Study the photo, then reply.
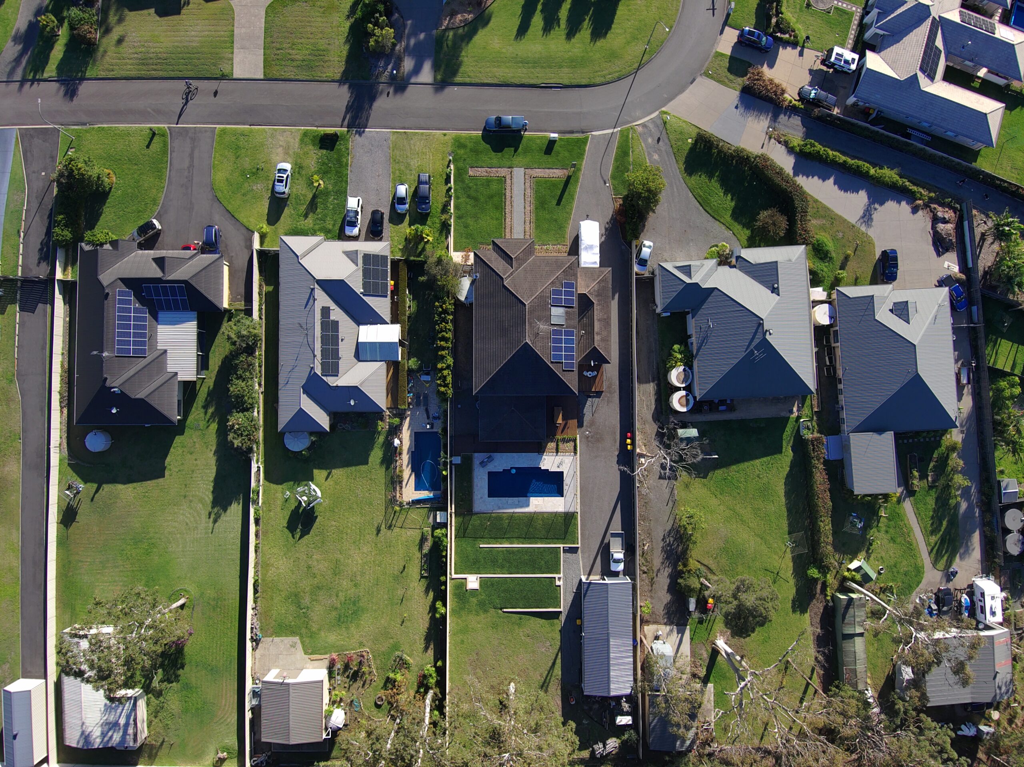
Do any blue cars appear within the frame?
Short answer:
Yes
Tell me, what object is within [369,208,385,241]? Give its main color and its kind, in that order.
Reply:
black car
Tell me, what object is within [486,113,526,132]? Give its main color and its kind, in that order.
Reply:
blue vehicle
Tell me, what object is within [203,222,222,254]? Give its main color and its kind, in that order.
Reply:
blue car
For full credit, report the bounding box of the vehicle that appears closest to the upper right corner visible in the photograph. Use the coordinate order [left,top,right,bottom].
[814,47,862,78]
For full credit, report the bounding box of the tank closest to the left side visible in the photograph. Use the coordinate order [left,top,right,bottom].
[86,425,121,455]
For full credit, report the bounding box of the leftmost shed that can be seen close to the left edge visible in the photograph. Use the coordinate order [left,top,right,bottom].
[3,681,47,767]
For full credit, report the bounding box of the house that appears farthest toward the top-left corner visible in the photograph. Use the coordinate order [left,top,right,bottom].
[74,239,228,425]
